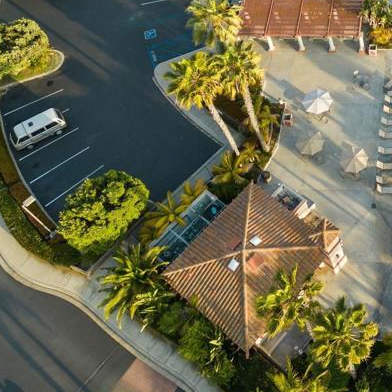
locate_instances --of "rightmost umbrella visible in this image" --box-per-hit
[339,147,369,174]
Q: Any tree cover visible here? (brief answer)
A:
Yes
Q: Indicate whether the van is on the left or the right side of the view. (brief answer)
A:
left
